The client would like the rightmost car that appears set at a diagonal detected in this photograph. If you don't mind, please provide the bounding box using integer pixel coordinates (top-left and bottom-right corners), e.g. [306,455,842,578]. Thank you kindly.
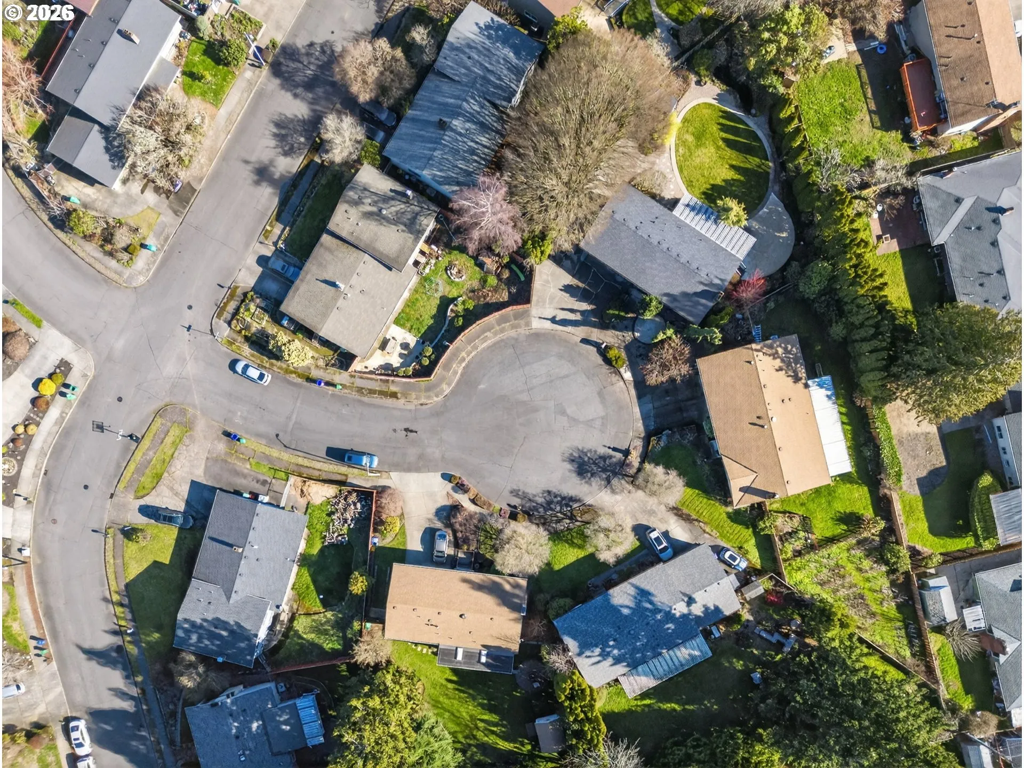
[717,545,749,571]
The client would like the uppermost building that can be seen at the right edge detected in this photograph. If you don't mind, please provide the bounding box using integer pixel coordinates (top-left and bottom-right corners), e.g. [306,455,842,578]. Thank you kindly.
[906,0,1024,136]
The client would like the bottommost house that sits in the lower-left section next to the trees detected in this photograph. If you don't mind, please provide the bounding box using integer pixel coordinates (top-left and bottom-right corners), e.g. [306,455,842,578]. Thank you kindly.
[184,674,307,768]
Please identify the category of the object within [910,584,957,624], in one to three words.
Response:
shed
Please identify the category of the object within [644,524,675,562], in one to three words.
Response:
car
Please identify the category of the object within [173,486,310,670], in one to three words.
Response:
house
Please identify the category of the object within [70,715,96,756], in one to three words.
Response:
car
